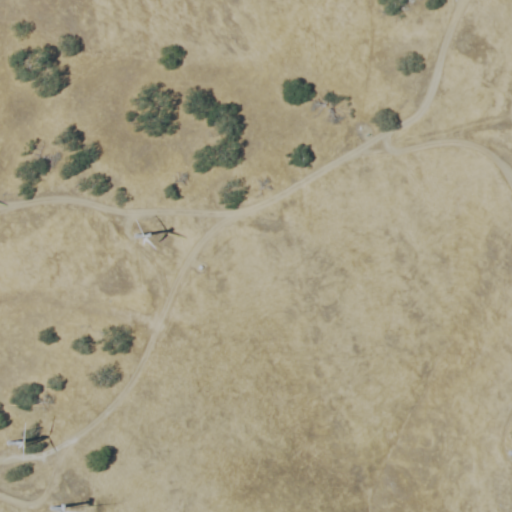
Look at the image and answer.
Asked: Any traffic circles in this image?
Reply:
No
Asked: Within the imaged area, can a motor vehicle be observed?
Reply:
No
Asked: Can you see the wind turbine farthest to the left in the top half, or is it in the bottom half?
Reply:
bottom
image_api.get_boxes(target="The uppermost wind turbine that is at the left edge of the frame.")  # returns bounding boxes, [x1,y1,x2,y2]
[5,425,28,460]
